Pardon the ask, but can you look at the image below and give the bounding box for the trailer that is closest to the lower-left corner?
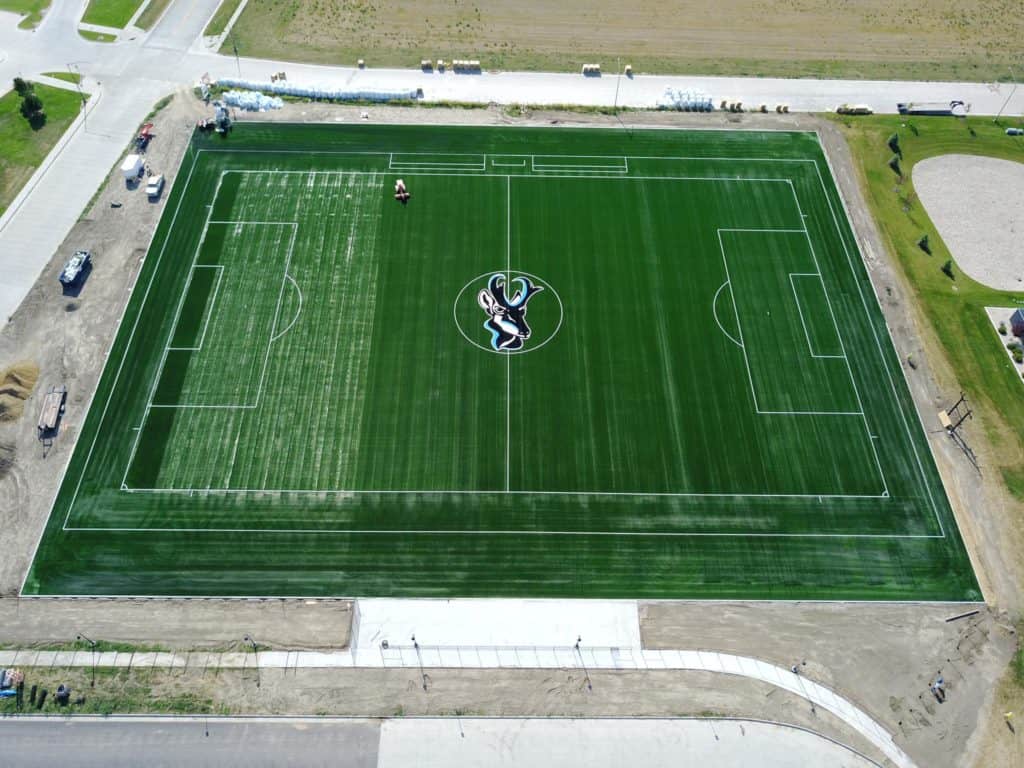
[38,387,66,449]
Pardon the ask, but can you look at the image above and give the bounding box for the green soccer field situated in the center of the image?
[20,121,986,603]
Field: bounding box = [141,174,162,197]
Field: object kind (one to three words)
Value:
vehicle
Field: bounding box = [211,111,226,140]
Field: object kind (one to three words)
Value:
work vehicle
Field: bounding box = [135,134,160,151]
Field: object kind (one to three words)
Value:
work vehicle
